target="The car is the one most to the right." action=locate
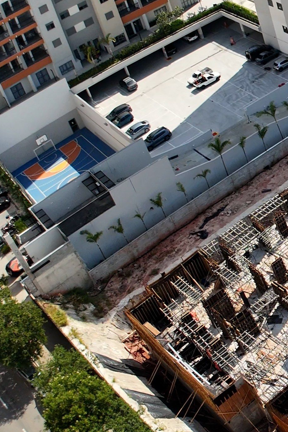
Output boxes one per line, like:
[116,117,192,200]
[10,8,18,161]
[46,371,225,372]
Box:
[269,52,288,71]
